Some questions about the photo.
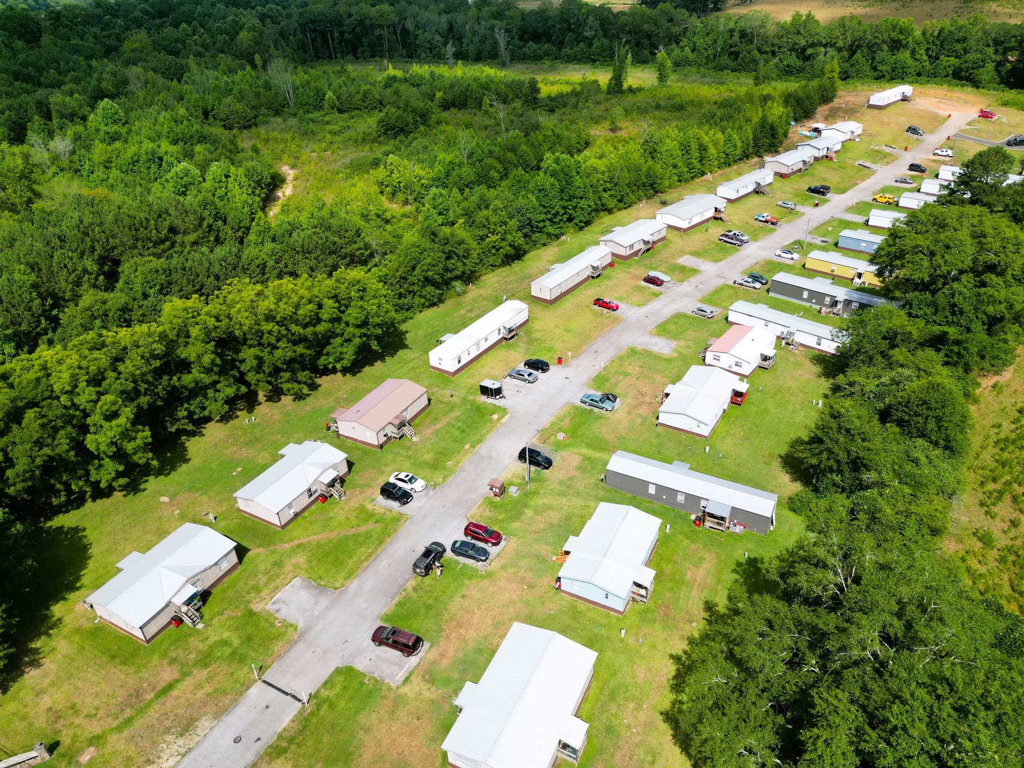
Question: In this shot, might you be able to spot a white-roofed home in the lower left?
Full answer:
Yes, I can see a white-roofed home in the lower left.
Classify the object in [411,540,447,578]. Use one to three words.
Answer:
car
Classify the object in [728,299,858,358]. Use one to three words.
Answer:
house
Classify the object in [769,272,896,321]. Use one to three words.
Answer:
house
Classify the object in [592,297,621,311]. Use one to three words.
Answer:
vehicle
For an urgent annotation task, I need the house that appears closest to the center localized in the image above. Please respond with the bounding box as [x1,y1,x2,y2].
[426,298,530,377]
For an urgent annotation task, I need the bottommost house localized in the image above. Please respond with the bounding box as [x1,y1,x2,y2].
[440,606,605,768]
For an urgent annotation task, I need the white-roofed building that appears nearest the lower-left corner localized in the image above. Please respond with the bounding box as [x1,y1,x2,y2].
[90,523,240,645]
